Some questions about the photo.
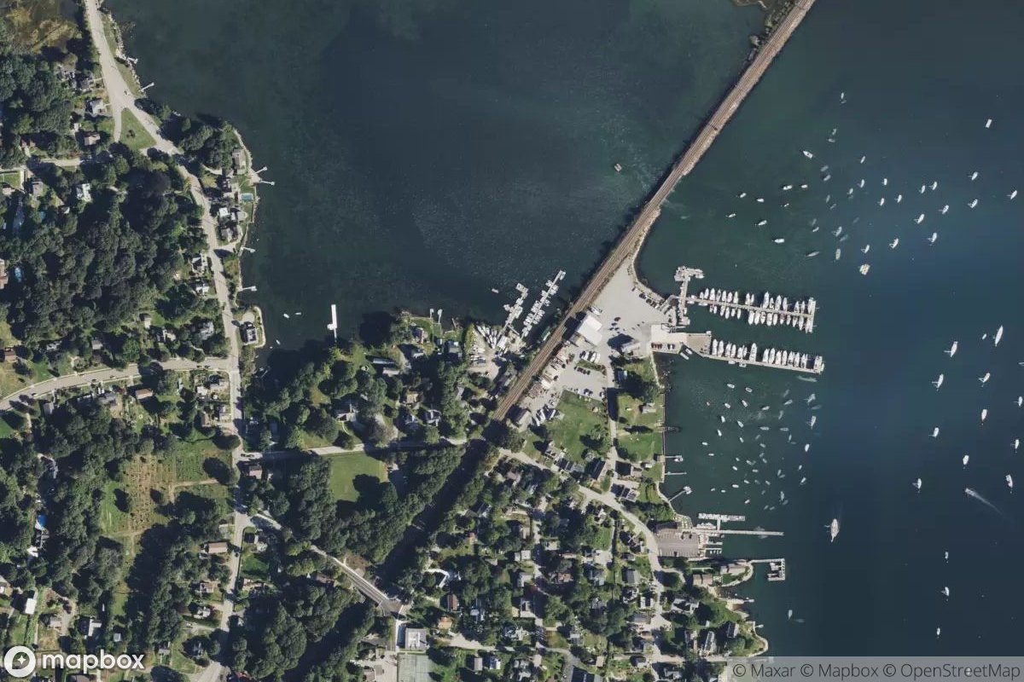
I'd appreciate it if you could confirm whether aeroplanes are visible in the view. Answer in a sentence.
No, no aeroplane can be seen from above.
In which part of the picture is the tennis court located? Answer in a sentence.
The tennis court appears toward the bottom of the photo.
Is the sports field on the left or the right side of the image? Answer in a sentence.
The sports field is on the left side of the image.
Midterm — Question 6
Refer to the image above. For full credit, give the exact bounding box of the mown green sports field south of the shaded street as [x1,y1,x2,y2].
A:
[328,452,387,503]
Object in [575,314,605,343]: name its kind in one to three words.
shed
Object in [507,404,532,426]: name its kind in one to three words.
barn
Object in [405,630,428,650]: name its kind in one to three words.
building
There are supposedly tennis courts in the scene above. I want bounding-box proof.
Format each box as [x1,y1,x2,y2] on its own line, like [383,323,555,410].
[396,655,433,682]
